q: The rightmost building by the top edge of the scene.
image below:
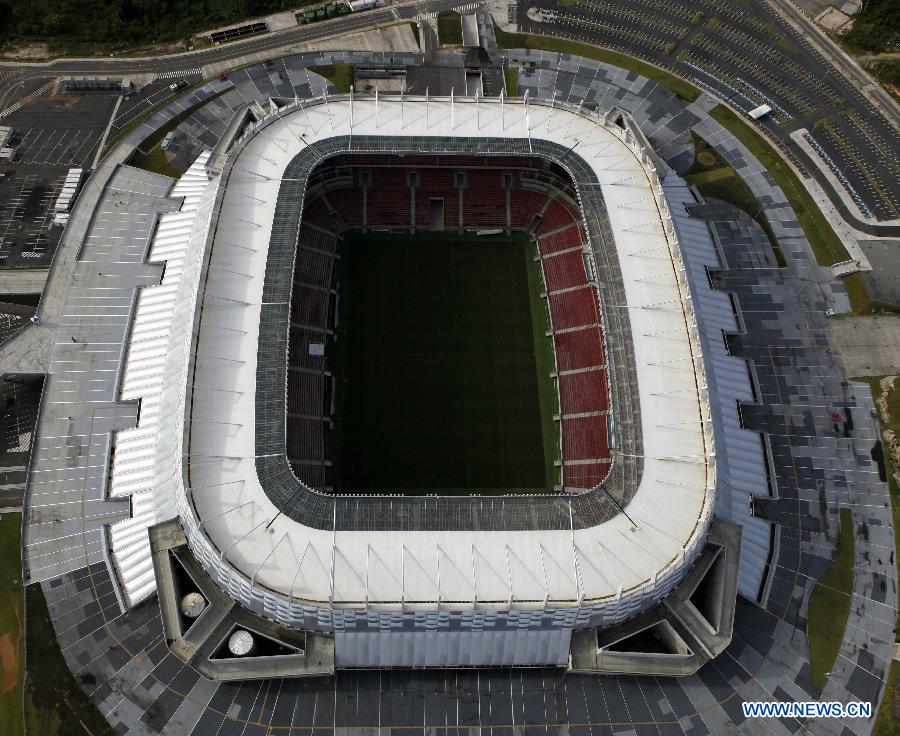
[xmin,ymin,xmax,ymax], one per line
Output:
[813,1,854,30]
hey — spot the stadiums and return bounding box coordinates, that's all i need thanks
[104,78,773,684]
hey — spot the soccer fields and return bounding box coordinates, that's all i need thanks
[323,233,564,497]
